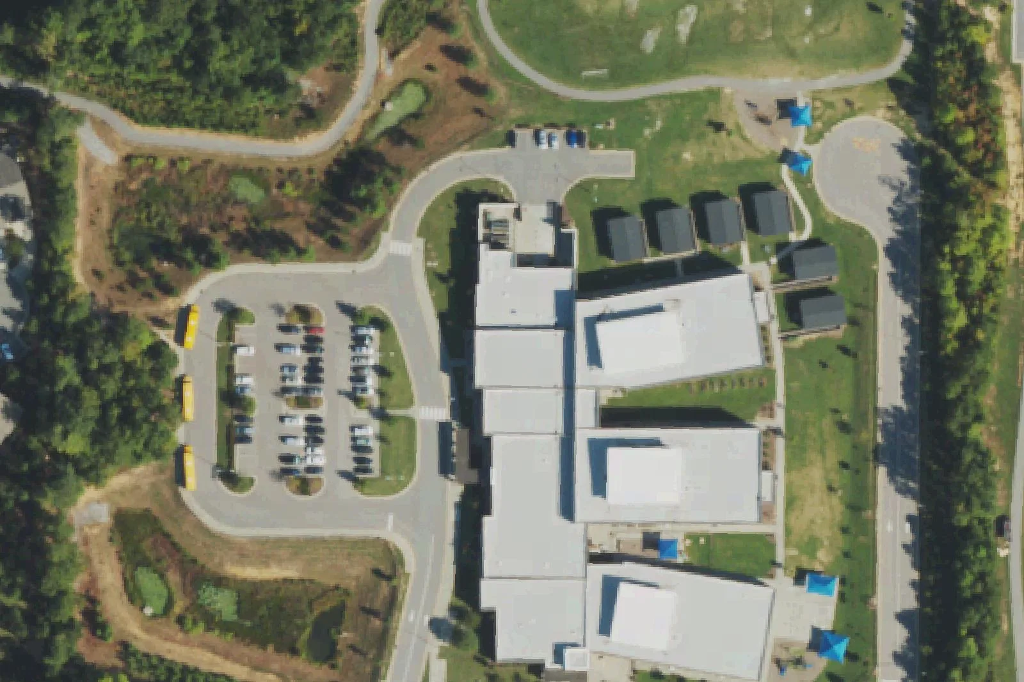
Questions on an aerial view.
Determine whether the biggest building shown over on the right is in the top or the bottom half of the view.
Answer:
bottom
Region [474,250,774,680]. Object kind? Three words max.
building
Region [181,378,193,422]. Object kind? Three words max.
vehicle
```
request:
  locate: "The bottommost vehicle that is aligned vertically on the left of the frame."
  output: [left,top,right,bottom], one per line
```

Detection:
[183,446,197,490]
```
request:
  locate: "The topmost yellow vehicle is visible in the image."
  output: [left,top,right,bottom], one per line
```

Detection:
[183,304,199,349]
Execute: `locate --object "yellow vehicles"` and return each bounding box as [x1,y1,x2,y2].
[183,304,199,349]
[181,378,193,422]
[183,446,197,490]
